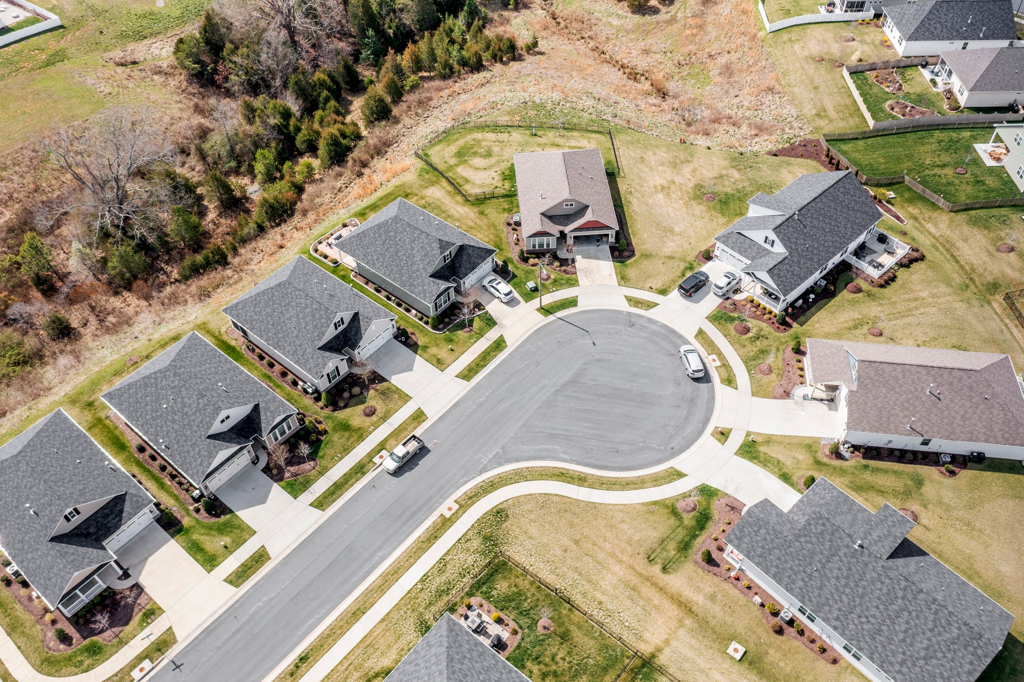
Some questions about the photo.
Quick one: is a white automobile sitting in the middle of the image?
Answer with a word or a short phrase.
Yes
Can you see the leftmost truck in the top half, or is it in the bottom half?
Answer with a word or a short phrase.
bottom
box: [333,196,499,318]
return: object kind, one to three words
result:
house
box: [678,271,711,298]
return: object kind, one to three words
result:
car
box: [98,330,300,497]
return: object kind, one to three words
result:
house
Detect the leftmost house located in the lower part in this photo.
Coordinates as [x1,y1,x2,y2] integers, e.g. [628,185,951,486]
[0,407,162,619]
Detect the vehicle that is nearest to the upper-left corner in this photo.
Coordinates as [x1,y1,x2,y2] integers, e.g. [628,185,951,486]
[481,276,515,304]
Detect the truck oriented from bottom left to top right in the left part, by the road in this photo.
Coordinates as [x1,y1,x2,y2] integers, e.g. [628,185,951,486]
[379,434,425,476]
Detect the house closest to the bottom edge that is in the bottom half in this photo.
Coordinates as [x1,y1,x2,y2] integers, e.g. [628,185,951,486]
[382,613,530,682]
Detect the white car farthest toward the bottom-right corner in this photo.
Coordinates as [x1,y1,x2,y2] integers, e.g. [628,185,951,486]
[678,345,706,380]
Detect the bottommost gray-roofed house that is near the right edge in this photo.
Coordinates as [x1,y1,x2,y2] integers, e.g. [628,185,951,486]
[722,476,1018,682]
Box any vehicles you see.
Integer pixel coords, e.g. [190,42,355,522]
[379,434,425,476]
[678,345,706,380]
[678,271,711,298]
[481,276,515,304]
[710,270,743,297]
